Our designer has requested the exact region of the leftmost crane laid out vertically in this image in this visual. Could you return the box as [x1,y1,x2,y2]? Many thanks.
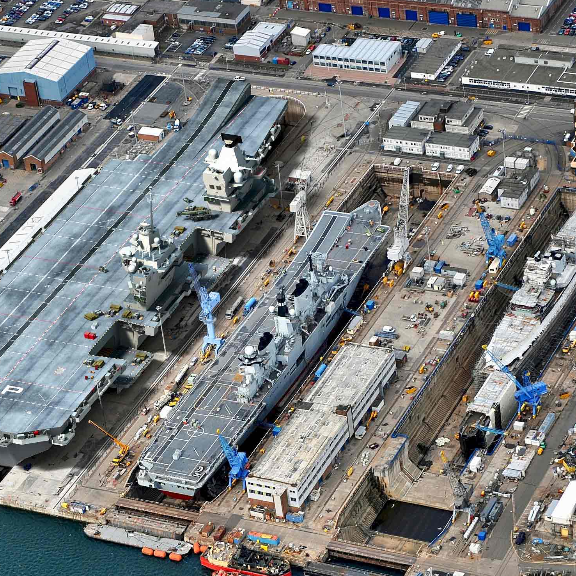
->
[187,261,226,358]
